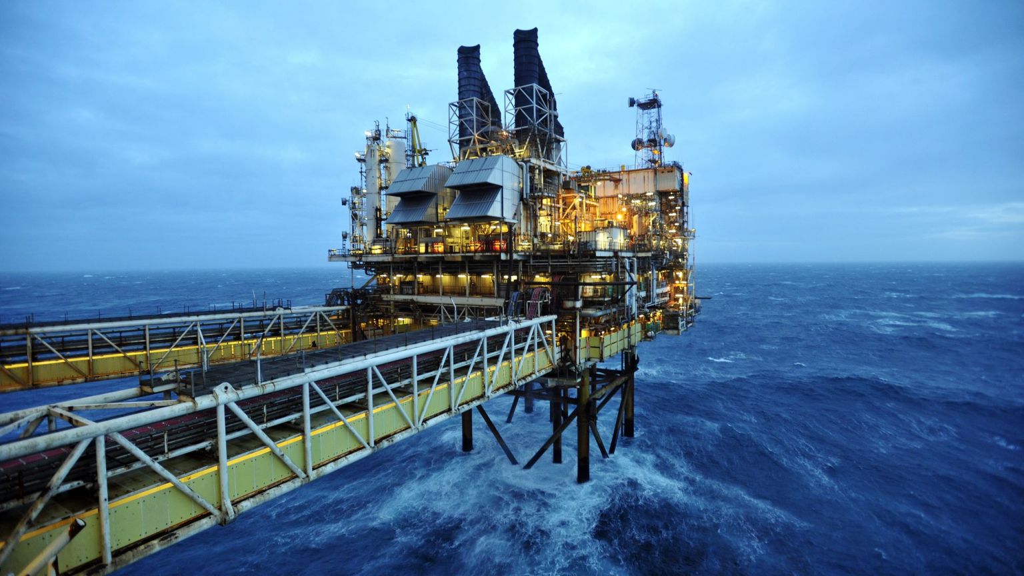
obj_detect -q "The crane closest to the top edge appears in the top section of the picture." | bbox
[404,105,451,169]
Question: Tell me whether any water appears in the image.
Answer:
Yes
